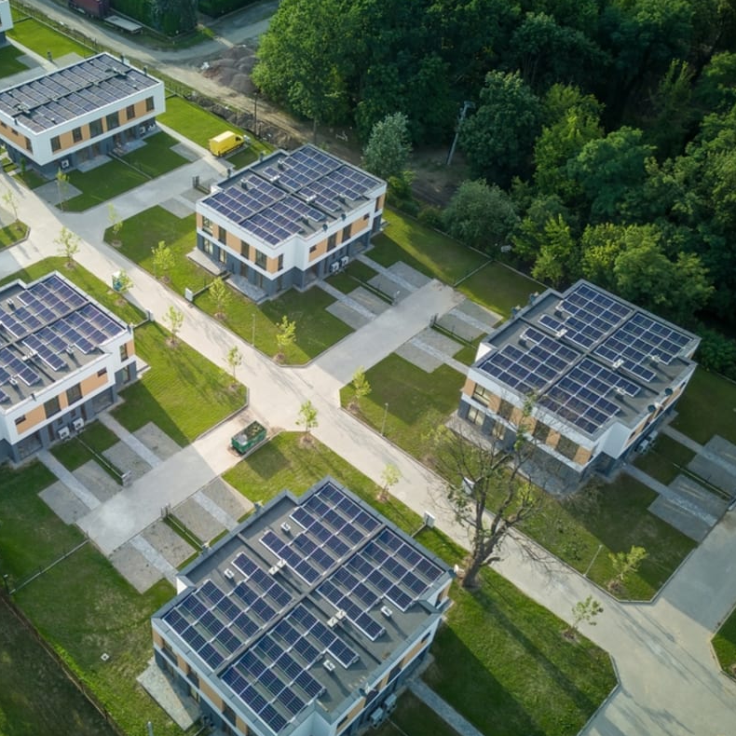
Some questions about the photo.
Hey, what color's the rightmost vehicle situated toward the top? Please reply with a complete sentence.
The color of the rightmost vehicle situated toward the top is yellow.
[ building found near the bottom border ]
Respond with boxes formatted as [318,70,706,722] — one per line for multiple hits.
[132,477,463,736]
